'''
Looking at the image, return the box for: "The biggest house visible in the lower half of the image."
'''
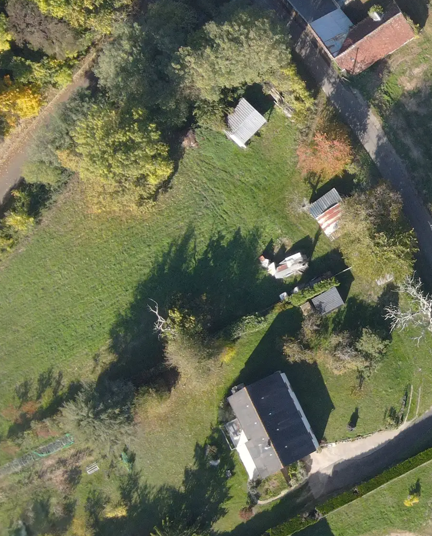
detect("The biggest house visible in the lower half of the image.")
[228,374,323,480]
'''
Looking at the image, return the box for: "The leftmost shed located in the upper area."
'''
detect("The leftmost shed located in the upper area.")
[224,104,269,147]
